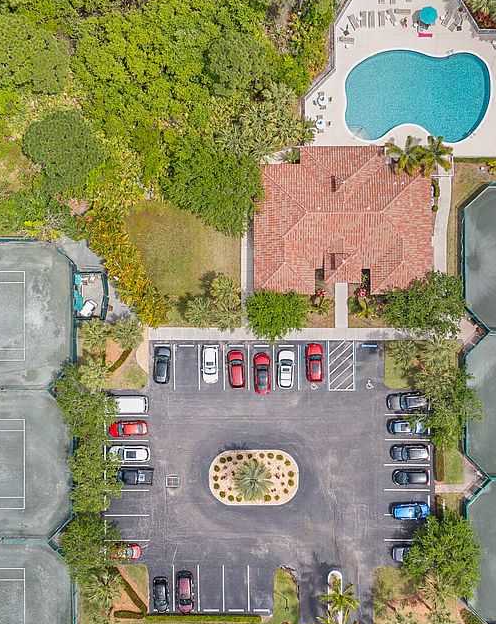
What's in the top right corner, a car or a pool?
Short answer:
pool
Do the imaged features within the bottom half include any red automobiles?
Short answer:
Yes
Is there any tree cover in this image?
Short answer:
Yes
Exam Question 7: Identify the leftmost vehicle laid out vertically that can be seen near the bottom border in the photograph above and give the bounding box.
[152,575,170,613]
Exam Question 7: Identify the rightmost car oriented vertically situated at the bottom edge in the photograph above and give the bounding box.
[175,570,194,612]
